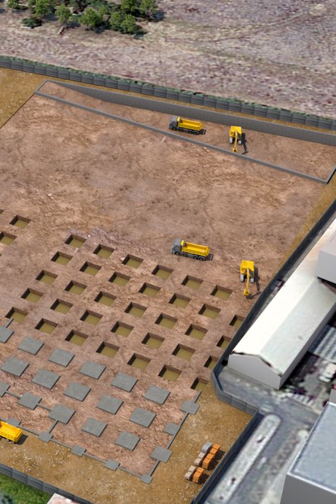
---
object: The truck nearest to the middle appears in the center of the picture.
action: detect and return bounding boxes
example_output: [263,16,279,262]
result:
[173,238,214,262]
